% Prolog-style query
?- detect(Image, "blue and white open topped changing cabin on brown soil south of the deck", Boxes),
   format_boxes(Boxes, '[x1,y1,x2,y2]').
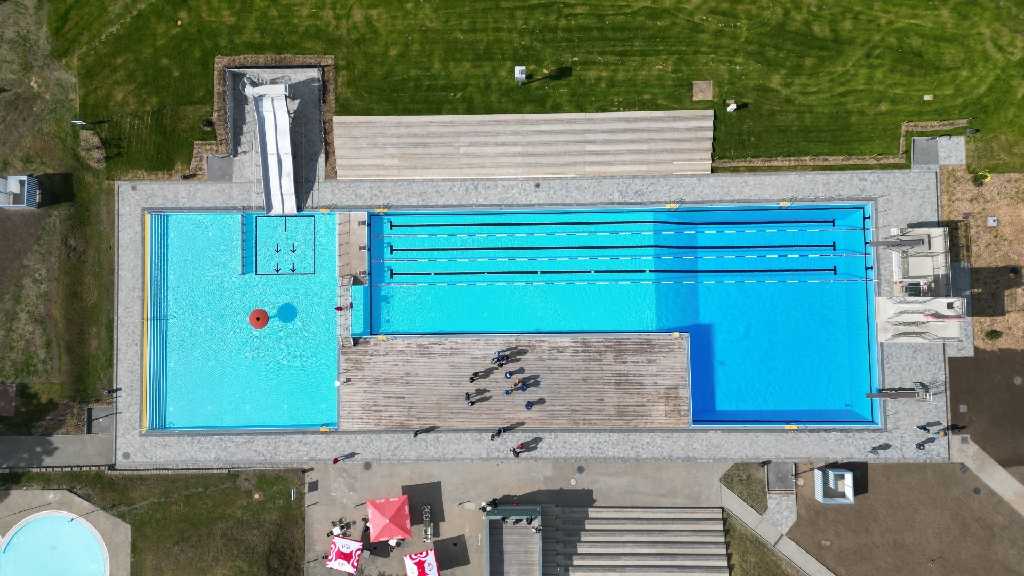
[815,467,857,503]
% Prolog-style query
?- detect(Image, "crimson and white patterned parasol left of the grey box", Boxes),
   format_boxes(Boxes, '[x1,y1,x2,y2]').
[326,535,364,574]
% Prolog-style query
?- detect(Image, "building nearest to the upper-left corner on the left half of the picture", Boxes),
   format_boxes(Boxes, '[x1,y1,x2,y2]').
[0,174,39,208]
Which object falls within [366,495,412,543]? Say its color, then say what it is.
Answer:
red umbrella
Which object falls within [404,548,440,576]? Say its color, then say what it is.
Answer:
white umbrella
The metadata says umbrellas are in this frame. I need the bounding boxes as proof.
[366,495,412,543]
[404,548,440,576]
[326,535,364,574]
